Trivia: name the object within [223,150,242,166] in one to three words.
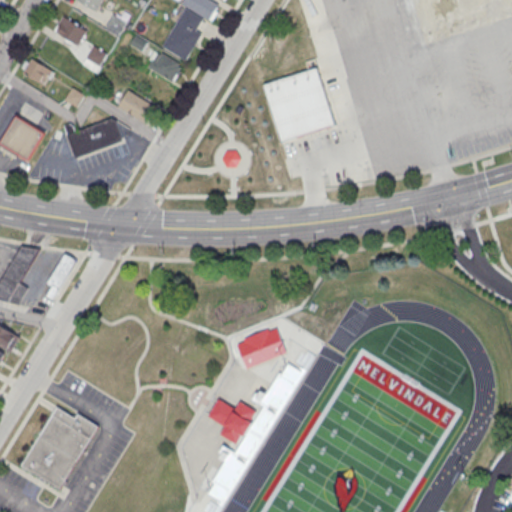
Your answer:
gazebo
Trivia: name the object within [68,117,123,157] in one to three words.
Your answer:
building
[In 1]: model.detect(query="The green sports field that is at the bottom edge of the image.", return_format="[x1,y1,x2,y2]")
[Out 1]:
[249,322,474,512]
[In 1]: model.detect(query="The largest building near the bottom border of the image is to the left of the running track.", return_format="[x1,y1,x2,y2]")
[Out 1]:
[22,408,100,490]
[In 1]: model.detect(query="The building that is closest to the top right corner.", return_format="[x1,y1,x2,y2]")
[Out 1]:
[264,68,335,141]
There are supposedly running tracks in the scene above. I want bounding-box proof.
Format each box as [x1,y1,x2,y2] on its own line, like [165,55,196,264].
[224,300,496,512]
